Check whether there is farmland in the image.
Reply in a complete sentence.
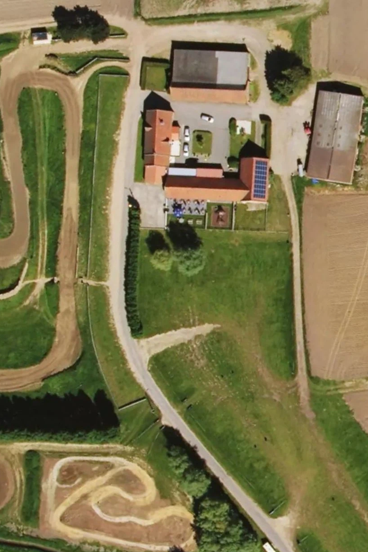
Yes, some farmland is visible.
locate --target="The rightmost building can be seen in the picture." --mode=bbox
[305,90,365,185]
